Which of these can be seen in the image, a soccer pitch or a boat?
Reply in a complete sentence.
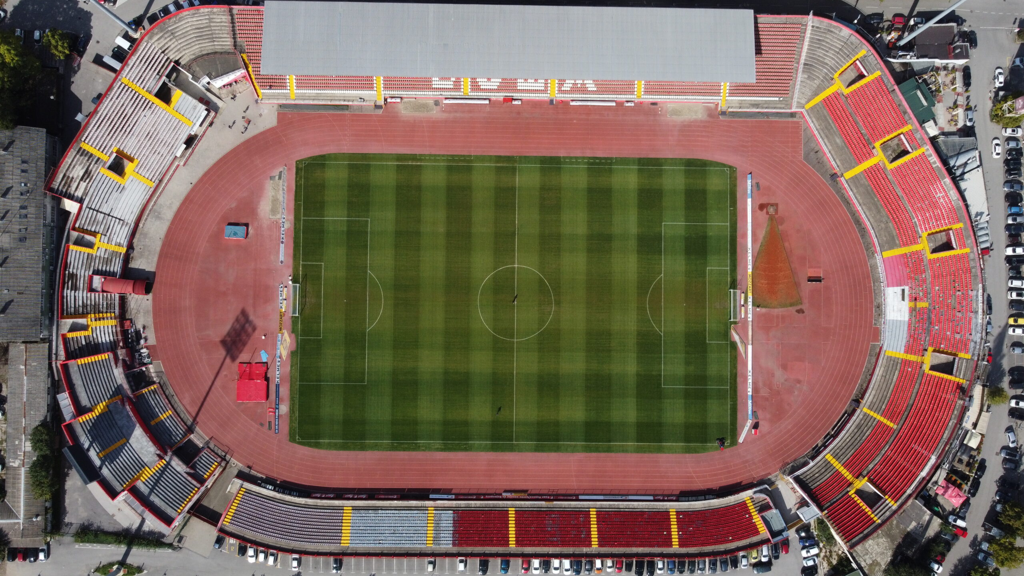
Visible in the photo is a soccer pitch.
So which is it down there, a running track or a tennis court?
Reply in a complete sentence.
The one in the frame is a running track.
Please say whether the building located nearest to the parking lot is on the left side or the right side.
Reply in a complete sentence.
The building located nearest to the parking lot sits on the right side.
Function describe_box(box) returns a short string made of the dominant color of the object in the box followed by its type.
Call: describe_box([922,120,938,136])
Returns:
white umbrella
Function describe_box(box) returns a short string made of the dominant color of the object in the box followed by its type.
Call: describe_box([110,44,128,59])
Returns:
black vehicle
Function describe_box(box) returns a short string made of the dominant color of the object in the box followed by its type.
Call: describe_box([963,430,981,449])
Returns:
white umbrella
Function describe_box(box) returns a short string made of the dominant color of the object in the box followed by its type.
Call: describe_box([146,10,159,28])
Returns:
black vehicle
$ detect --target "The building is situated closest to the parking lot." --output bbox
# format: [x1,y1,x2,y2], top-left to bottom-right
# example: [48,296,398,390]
[757,503,788,542]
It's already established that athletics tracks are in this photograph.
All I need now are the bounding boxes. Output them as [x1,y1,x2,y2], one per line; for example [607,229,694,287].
[145,99,877,497]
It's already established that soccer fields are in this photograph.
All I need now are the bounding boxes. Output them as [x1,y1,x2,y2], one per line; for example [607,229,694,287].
[289,153,738,454]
